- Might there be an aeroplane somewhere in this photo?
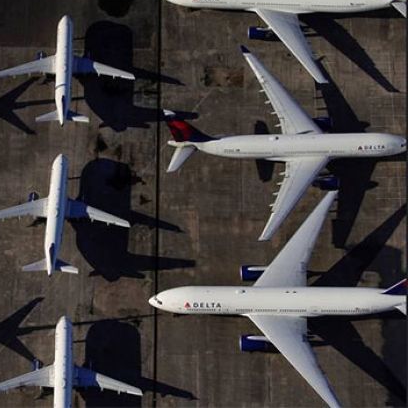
Yes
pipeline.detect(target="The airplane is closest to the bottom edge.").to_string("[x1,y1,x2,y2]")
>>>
[0,318,139,408]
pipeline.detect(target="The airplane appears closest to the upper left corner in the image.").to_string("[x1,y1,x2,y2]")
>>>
[0,16,134,126]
